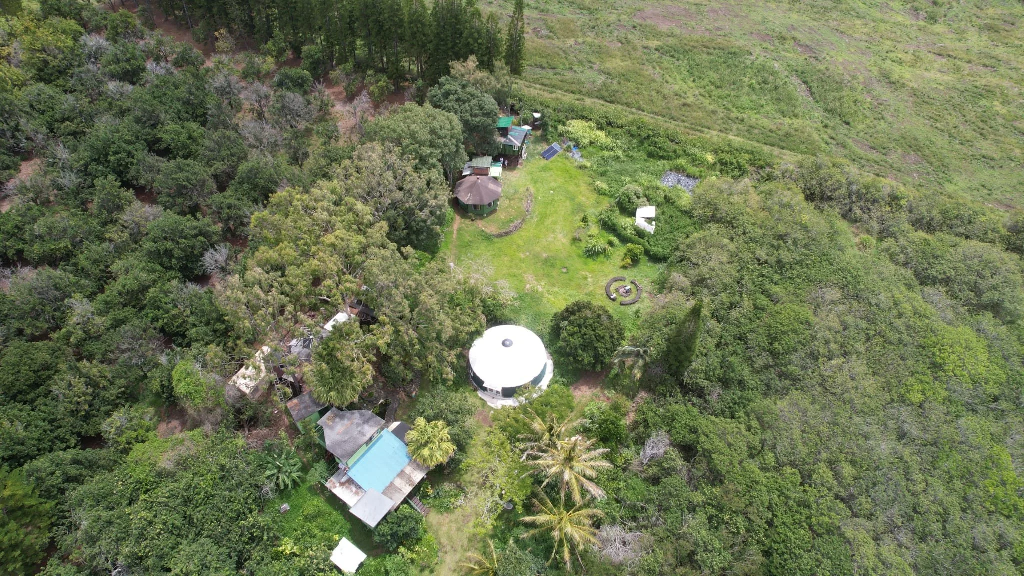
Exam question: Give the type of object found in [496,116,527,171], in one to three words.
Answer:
house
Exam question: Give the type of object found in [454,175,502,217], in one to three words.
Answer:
house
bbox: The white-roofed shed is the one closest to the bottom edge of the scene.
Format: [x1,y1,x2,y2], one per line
[331,537,368,574]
